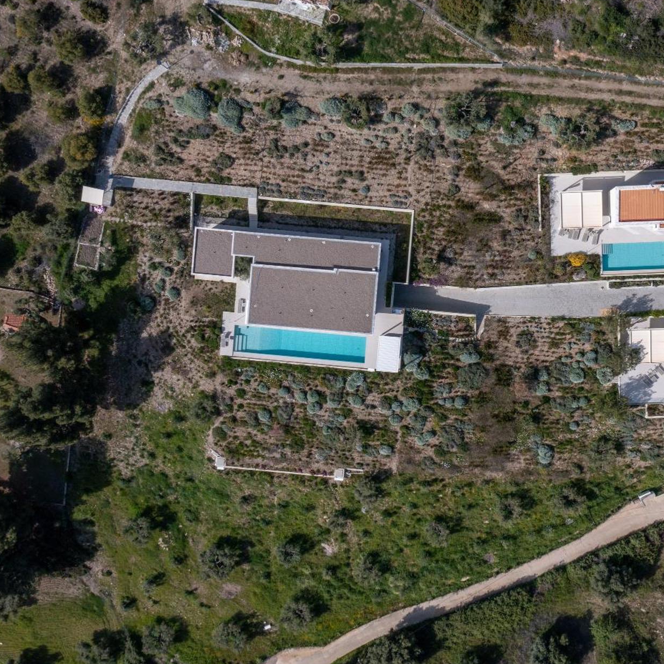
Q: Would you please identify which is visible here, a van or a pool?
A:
pool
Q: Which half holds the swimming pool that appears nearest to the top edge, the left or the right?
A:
right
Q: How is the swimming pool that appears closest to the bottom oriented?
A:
from side to side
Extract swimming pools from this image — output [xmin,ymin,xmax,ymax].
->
[234,325,366,363]
[602,242,664,273]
